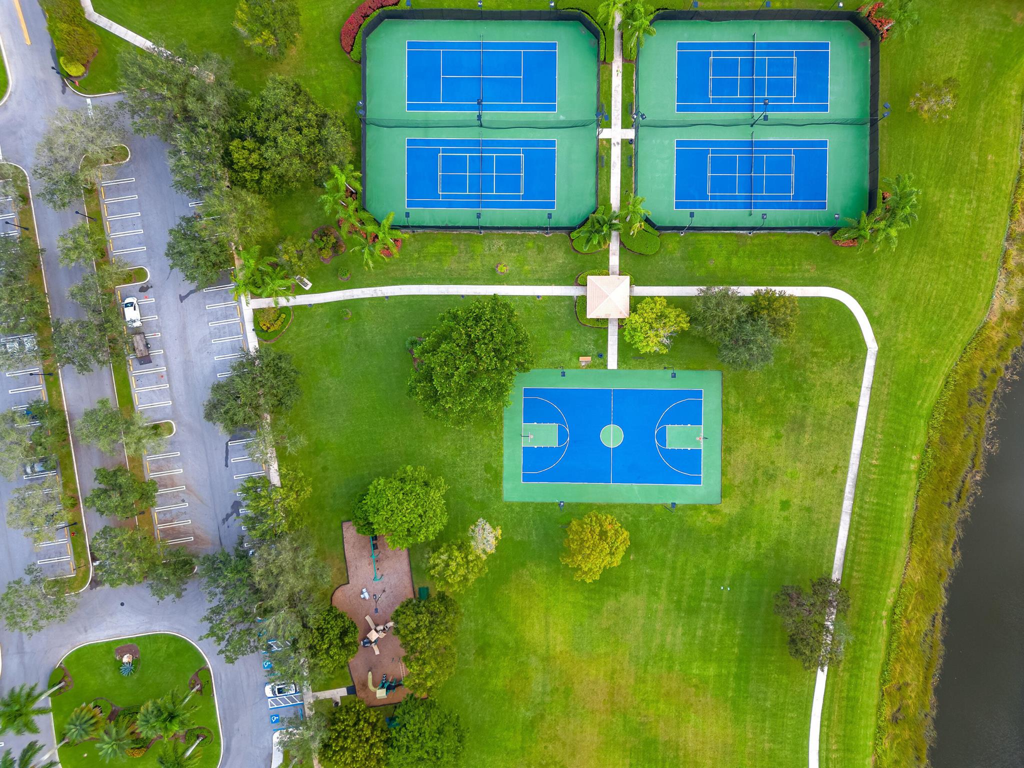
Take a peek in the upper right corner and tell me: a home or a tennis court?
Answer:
tennis court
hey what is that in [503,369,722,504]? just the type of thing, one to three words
basketball court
